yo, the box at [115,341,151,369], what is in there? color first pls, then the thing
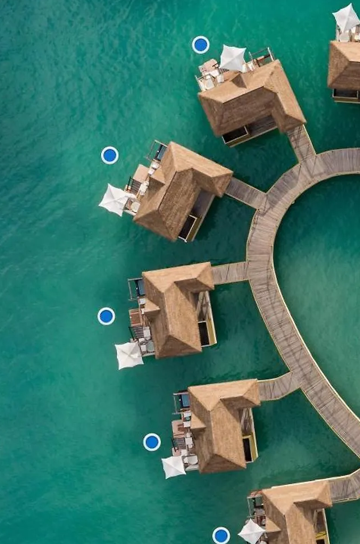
white umbrella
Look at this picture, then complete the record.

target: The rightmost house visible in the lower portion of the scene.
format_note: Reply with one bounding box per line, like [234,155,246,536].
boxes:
[243,476,333,544]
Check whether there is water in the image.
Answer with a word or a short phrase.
Yes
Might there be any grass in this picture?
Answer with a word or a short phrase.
No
